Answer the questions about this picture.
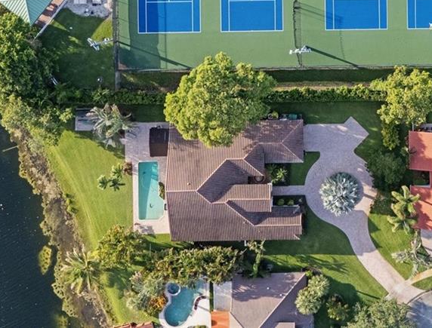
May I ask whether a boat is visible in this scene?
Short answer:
No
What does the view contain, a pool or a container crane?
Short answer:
pool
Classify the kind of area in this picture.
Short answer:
residential area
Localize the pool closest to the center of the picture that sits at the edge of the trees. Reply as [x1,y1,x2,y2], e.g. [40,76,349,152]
[137,160,165,221]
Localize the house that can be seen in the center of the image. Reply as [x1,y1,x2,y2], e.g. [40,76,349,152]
[165,119,303,242]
